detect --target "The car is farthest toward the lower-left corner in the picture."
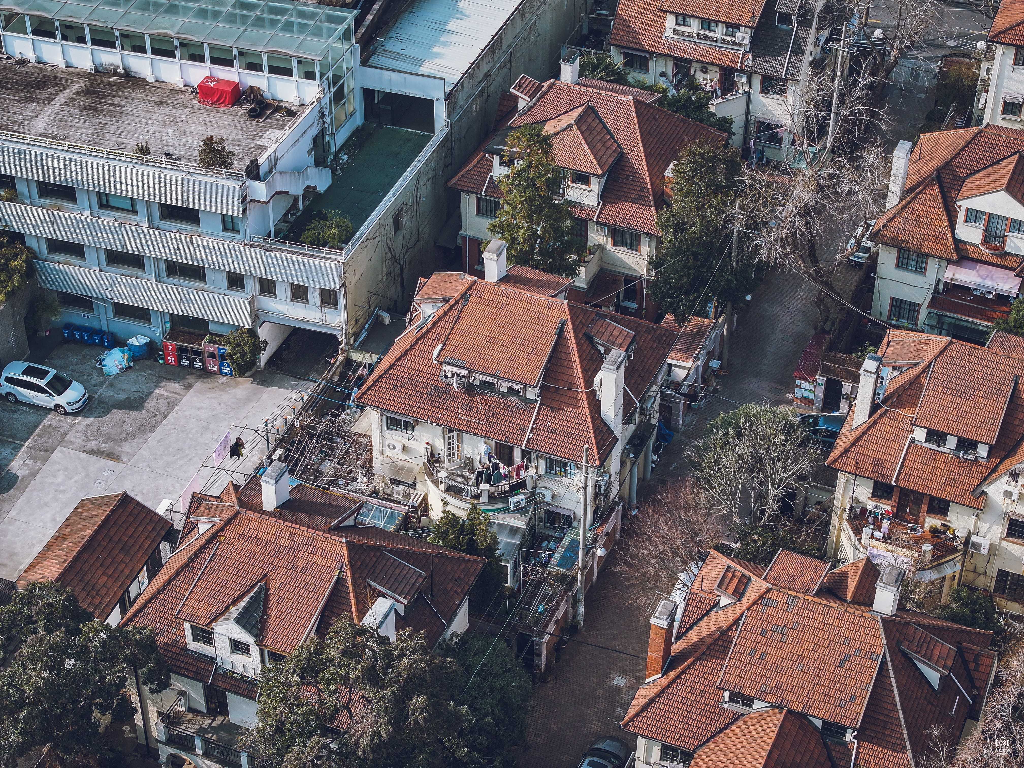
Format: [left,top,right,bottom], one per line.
[2,358,92,417]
